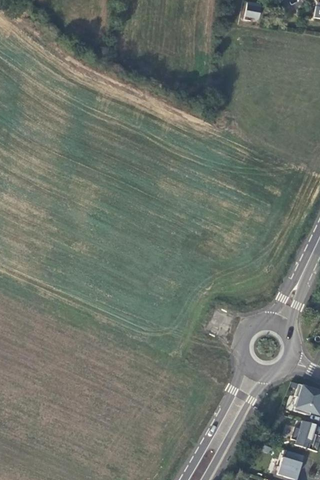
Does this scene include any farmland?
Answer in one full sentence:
Yes, there is farmland in the image.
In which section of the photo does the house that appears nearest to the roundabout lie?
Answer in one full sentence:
Look in the bottom right portion of the view to spot the house that appears nearest to the roundabout.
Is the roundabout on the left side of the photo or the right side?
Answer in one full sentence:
The roundabout sits on the right side.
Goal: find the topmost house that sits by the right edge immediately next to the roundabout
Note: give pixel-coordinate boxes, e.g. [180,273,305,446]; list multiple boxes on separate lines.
[288,382,320,417]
